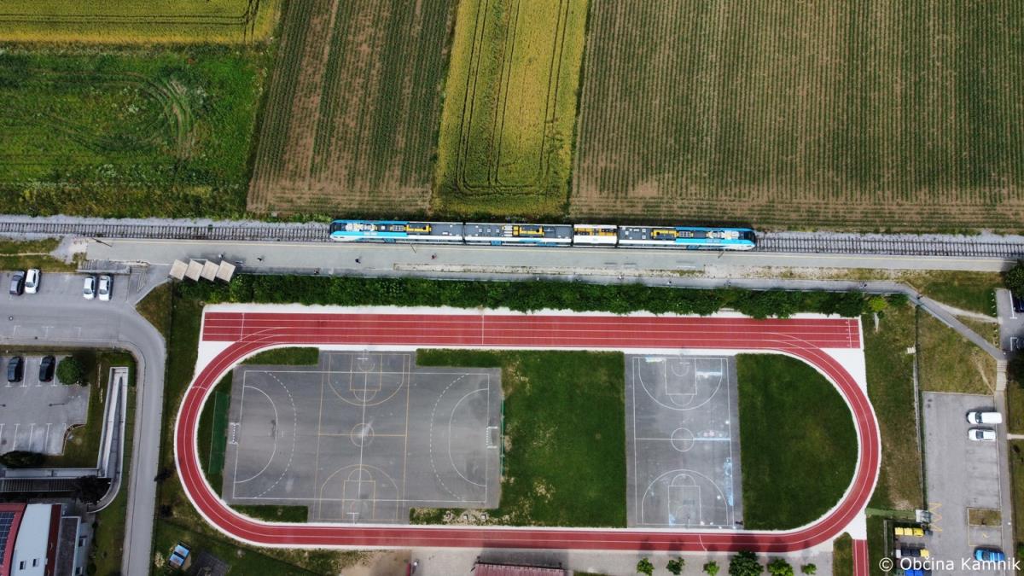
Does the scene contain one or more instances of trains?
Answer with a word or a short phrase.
Yes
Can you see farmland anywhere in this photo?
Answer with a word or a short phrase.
Yes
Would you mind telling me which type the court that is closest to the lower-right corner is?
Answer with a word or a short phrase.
basketball court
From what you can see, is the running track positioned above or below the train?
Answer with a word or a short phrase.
below it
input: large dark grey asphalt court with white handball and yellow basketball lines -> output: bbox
[223,350,500,524]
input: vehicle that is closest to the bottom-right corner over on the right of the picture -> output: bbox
[972,547,1005,562]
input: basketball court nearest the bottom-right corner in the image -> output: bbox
[625,354,743,530]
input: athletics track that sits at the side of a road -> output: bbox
[174,304,883,576]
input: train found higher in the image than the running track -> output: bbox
[329,221,757,250]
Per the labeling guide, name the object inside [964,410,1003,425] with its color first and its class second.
white vehicle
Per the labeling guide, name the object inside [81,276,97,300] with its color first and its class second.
white car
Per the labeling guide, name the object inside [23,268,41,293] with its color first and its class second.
white car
